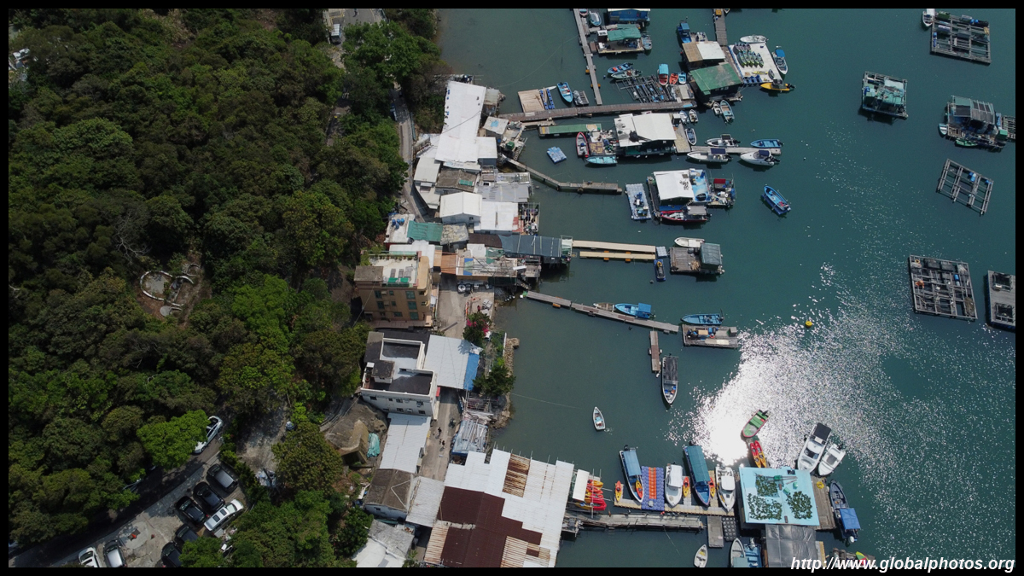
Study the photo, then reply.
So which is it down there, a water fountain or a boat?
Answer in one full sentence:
I can see a boat in this picture.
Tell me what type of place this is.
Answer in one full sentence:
The picture captures a residential area.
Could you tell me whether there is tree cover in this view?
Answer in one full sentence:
Yes, there is tree cover in the image.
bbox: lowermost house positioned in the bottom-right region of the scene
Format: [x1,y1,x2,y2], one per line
[762,524,824,576]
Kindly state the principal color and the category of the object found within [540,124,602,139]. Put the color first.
green ship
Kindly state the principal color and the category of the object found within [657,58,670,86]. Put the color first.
blue boat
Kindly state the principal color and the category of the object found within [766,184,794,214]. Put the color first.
blue boat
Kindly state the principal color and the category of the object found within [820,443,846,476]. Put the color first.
white boat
